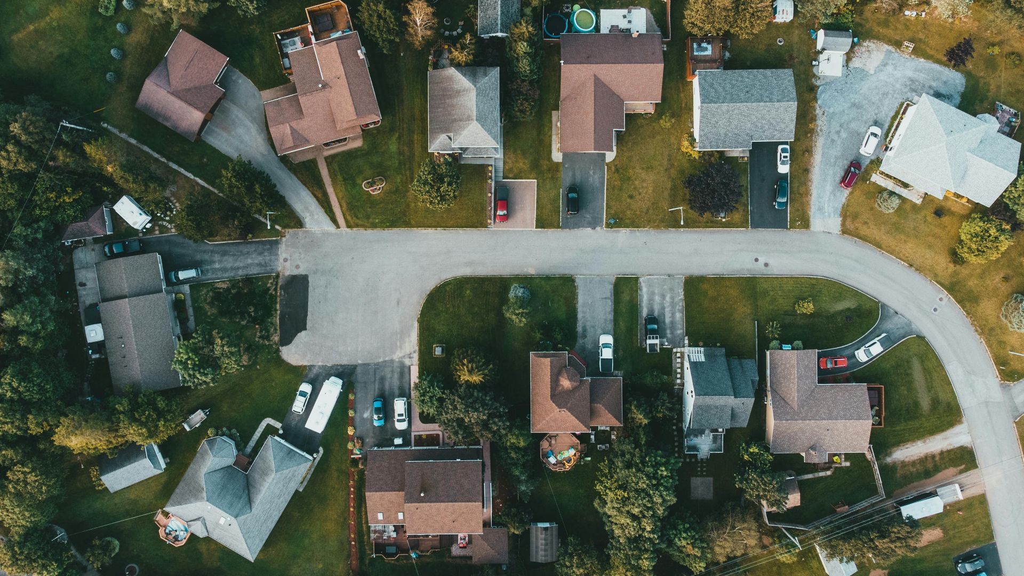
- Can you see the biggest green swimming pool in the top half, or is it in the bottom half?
top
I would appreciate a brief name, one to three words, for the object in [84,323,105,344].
gazebo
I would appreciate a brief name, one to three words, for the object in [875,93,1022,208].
house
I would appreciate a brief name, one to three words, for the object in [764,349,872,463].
house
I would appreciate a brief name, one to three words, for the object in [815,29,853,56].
shed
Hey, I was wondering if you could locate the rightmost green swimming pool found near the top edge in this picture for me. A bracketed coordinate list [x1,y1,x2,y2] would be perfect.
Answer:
[572,6,598,32]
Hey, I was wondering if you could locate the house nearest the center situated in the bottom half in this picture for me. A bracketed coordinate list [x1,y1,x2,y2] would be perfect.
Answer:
[530,349,623,433]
